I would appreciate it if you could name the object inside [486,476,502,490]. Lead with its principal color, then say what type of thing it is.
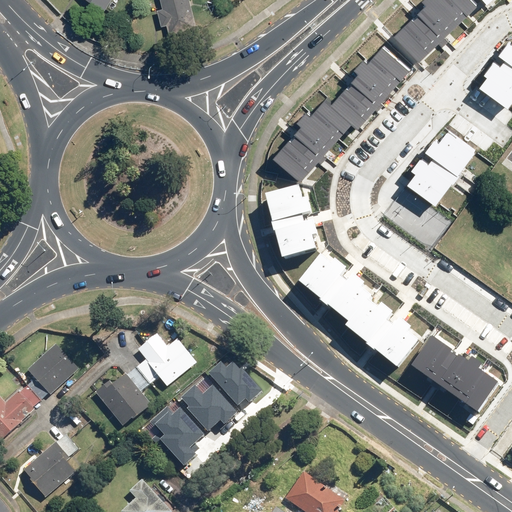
white car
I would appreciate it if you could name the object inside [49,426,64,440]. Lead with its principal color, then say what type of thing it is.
white vehicle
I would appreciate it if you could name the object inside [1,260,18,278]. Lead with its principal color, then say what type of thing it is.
white vehicle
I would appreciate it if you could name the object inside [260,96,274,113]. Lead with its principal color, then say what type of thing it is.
white car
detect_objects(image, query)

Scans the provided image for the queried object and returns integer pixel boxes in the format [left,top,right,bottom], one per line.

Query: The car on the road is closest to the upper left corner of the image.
[52,51,66,64]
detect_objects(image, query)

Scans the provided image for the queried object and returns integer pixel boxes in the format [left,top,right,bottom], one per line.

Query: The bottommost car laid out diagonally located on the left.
[159,479,174,494]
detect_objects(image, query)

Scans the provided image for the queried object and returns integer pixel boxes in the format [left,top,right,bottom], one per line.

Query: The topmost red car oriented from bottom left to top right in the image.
[241,98,256,114]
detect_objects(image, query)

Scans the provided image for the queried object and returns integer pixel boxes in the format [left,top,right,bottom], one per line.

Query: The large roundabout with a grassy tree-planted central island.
[13,79,228,306]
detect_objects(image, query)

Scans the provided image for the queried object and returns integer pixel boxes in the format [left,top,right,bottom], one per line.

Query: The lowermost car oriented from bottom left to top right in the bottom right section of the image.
[476,425,490,441]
